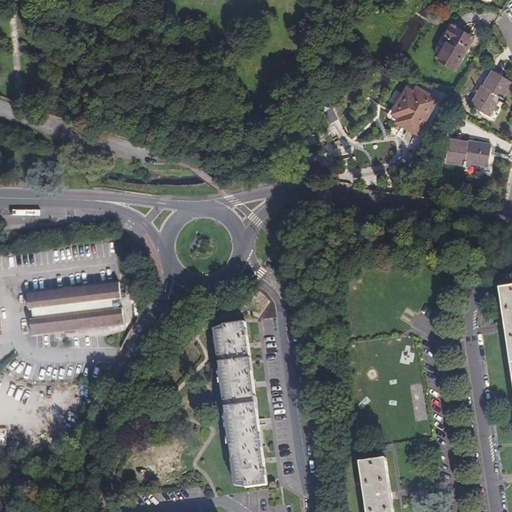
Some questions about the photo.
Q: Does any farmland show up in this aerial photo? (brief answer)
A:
No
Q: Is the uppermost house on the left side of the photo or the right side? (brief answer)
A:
right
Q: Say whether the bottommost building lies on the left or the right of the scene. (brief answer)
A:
right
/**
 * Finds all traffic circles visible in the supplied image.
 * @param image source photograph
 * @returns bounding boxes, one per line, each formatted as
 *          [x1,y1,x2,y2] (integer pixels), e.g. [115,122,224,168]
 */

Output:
[158,200,250,291]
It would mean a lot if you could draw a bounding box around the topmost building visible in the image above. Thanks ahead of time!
[436,24,471,70]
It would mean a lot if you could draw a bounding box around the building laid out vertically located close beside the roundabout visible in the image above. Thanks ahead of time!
[212,320,270,488]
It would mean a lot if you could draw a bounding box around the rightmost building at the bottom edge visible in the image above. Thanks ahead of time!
[357,457,394,512]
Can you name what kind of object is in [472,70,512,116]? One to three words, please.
house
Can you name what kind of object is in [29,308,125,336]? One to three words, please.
shed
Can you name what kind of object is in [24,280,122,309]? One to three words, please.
shed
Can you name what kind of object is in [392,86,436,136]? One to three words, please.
house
